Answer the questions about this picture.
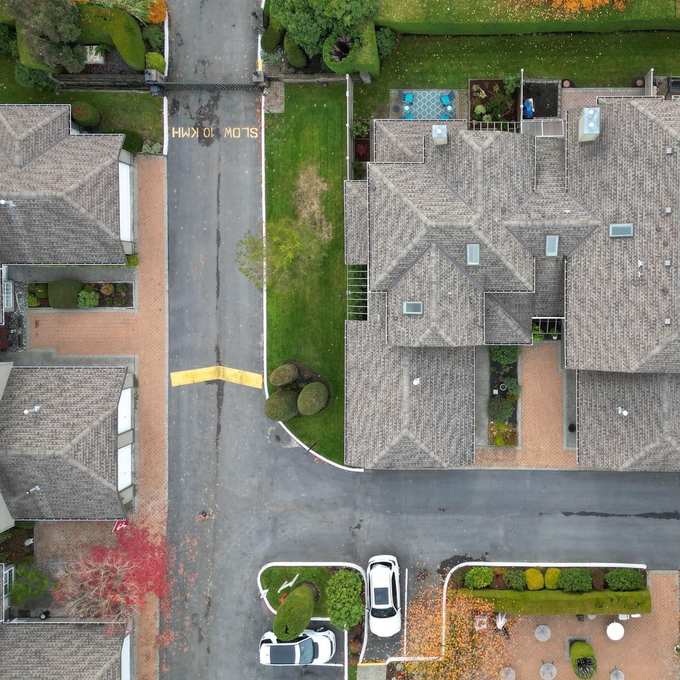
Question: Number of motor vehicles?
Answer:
2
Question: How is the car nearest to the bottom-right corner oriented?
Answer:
up and down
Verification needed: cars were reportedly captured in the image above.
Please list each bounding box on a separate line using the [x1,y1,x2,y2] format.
[261,624,337,671]
[364,555,403,635]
